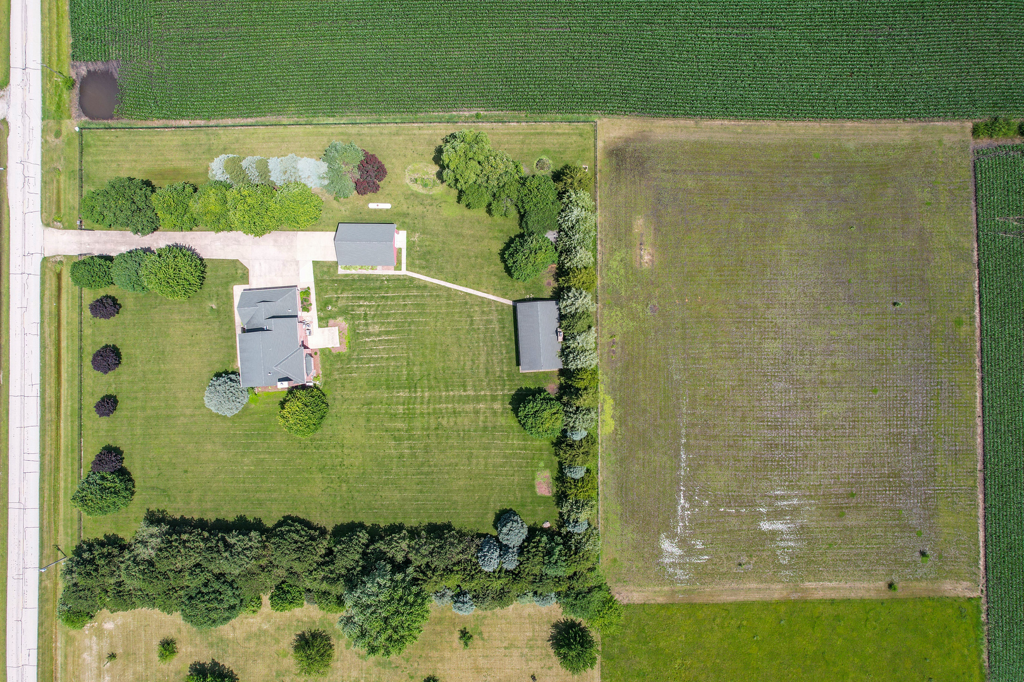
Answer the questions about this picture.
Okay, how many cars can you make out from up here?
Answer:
0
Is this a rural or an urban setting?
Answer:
rural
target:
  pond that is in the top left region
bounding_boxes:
[79,69,119,119]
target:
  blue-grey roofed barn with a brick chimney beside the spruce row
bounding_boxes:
[517,300,564,371]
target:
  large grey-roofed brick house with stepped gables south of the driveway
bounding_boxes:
[237,287,316,388]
